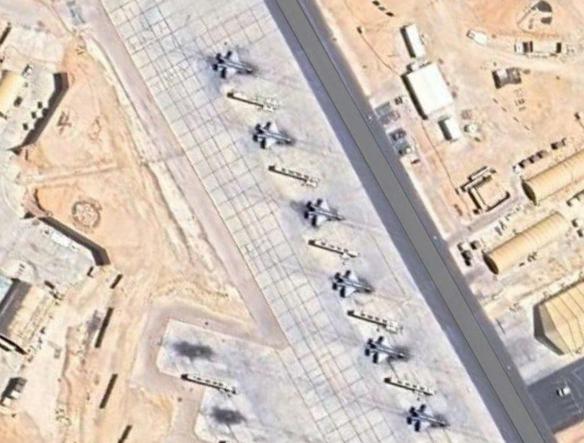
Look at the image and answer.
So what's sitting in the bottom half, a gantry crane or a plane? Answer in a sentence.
It is a plane that can be seen in the bottom half.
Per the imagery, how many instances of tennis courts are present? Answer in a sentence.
No tennis courts are visible.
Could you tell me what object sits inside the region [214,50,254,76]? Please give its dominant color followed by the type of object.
gray airplane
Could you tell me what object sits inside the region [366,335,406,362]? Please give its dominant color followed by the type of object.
gray airplane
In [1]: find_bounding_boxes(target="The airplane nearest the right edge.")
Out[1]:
[409,405,449,431]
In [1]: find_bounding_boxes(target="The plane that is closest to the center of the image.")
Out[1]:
[306,198,346,225]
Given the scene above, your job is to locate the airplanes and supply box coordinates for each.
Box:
[334,270,375,296]
[366,335,406,362]
[214,50,254,76]
[253,120,293,145]
[409,405,449,431]
[306,198,346,225]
